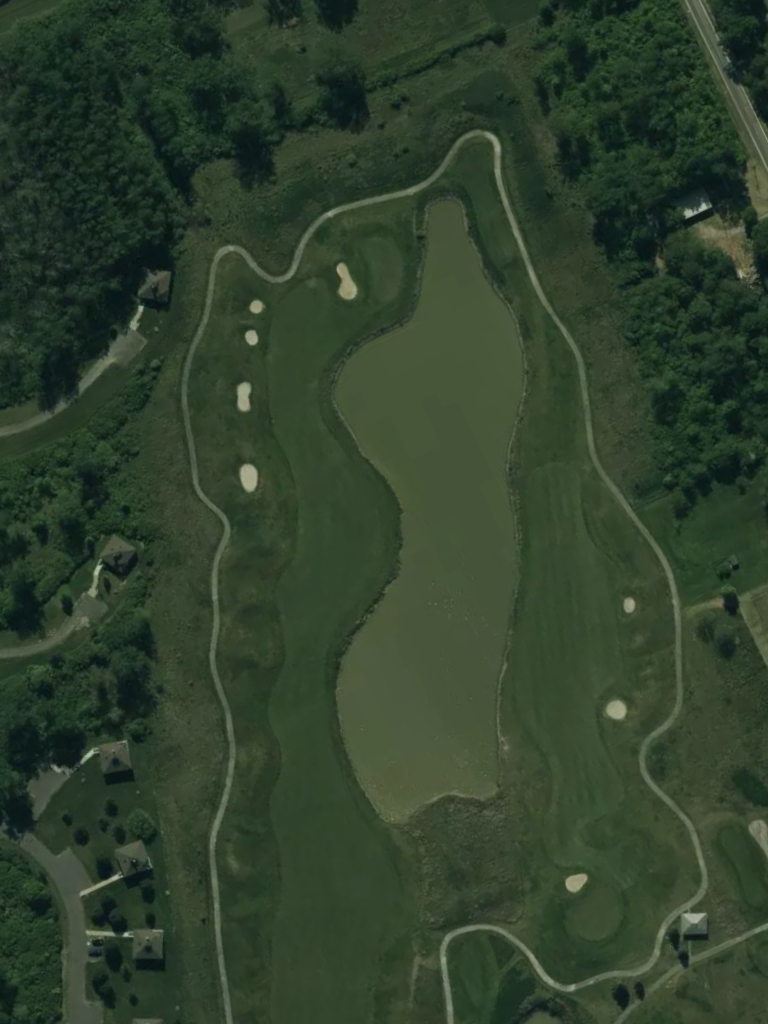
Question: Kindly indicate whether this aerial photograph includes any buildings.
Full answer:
Yes, this view includes a building.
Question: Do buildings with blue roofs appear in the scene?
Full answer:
No, the picture doesn't show any building with a blue roof.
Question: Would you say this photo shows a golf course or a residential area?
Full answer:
The picture captures a golf course.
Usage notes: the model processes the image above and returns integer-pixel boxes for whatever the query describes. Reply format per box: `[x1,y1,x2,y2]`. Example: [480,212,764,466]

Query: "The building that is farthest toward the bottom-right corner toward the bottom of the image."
[681,913,707,934]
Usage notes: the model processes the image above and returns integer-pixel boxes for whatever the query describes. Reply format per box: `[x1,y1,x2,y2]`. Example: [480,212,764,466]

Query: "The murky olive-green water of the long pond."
[336,200,524,821]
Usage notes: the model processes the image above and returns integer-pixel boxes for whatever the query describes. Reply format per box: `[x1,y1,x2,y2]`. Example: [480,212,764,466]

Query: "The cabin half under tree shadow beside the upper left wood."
[138,269,171,301]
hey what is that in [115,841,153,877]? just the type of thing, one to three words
building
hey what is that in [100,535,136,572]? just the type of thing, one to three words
building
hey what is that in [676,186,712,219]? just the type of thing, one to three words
shed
